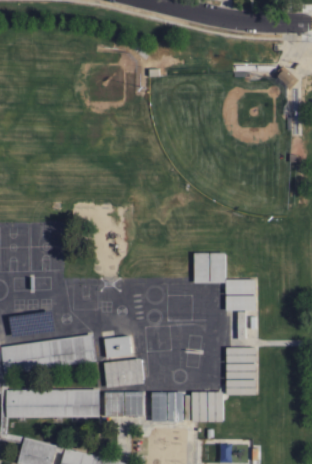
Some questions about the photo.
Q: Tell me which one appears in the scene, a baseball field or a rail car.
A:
baseball field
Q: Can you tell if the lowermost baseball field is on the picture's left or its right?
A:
right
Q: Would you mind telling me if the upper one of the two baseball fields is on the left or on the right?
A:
left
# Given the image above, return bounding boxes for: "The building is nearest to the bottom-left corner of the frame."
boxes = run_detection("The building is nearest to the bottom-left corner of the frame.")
[18,438,57,464]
